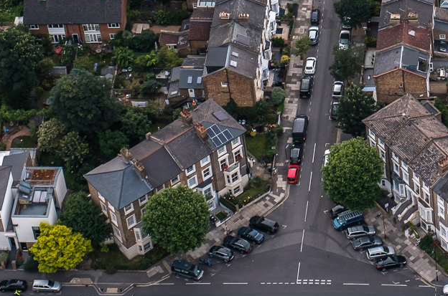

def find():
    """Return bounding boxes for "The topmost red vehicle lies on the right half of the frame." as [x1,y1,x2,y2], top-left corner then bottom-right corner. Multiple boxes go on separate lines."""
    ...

[284,164,302,184]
